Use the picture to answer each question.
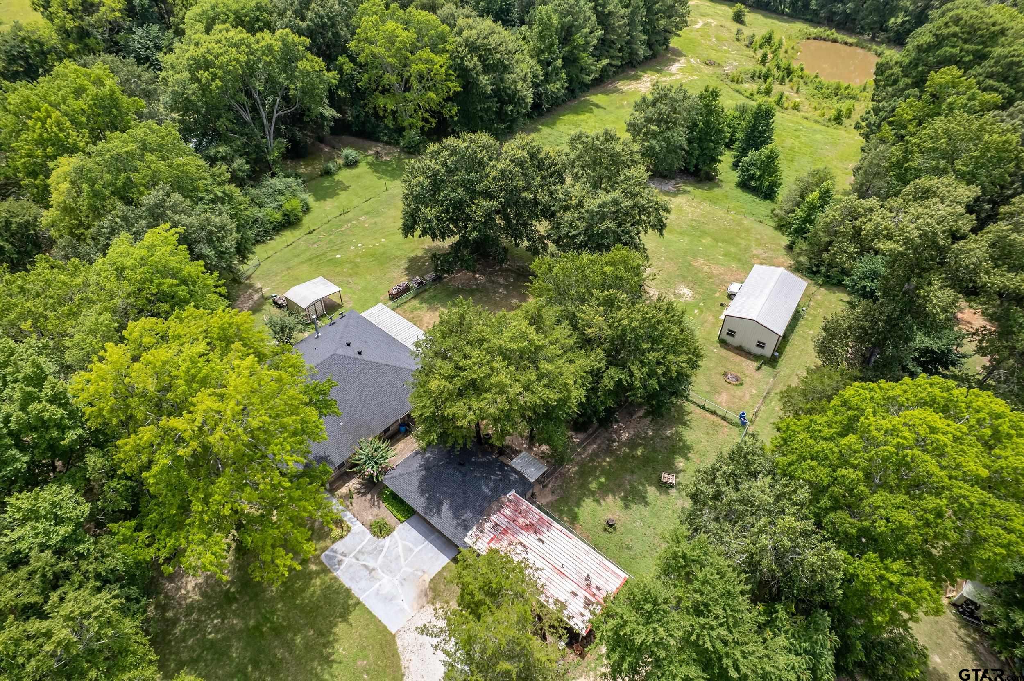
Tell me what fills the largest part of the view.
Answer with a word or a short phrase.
trees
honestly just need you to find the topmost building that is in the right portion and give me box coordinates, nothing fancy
[716,264,809,360]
